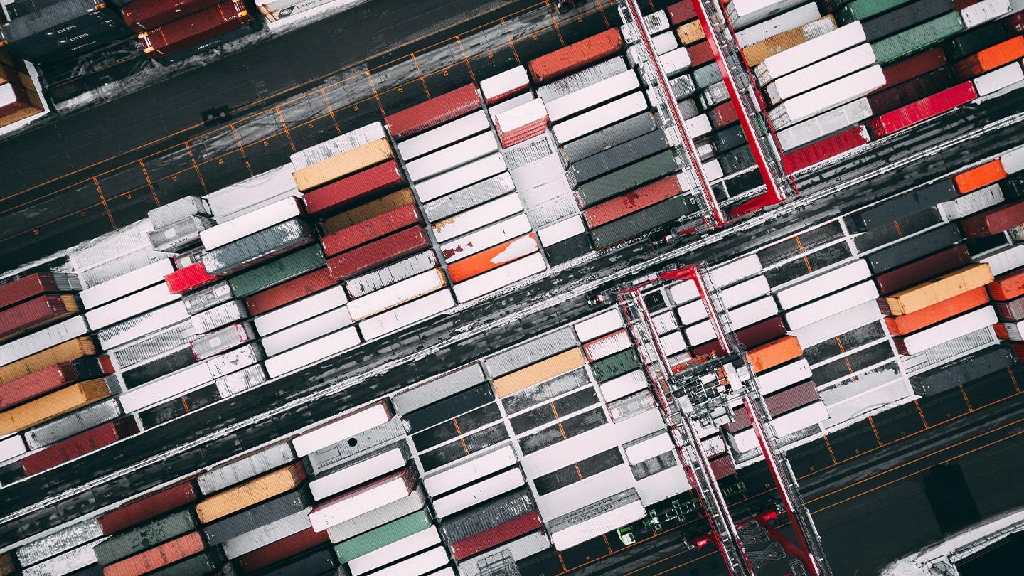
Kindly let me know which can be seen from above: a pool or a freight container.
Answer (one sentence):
This aerial view contains a freight container.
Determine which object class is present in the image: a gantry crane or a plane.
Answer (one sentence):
Looking from above, you can make out a gantry crane.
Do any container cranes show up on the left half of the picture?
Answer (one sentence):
No, looking on the left half of the picture, there is no container crane.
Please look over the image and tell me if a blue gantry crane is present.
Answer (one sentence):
No, no blue gantry crane can be seen from above.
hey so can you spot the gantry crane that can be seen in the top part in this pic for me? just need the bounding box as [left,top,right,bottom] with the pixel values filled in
[554,0,804,252]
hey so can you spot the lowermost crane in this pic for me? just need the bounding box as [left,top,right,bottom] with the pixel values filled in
[582,255,846,576]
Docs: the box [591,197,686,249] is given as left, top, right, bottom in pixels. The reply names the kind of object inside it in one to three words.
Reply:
shipping container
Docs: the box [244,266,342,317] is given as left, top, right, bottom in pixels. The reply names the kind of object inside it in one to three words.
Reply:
shipping container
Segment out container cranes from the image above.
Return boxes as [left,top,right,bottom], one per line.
[554,0,804,252]
[582,255,846,576]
